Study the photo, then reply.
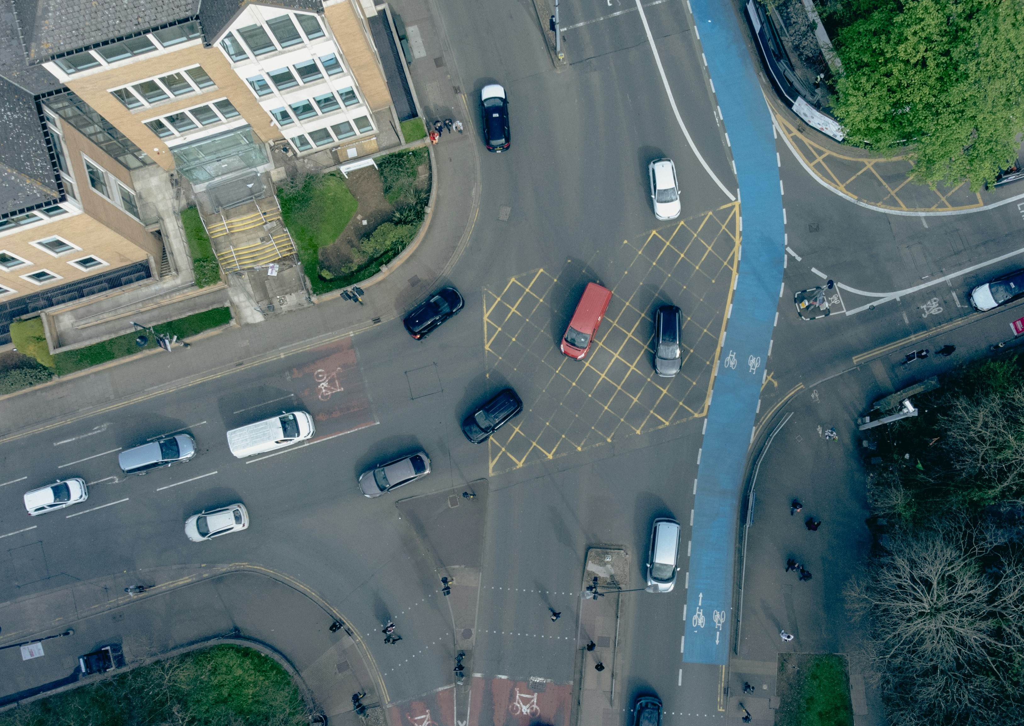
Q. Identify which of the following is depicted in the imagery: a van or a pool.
van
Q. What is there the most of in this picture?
paved ground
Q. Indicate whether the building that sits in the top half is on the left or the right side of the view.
left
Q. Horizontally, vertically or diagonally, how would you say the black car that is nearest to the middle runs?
diagonally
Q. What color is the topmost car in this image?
black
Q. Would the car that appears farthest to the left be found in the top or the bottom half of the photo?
bottom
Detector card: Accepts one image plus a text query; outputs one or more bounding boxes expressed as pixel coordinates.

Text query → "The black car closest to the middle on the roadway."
[461,386,523,444]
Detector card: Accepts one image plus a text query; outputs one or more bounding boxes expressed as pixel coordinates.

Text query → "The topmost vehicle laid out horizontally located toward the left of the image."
[225,412,313,460]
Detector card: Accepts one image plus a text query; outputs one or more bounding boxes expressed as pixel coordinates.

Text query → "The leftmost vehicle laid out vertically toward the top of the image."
[479,86,512,152]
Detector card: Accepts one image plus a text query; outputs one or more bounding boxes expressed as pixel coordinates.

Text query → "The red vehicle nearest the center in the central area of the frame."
[561,281,614,362]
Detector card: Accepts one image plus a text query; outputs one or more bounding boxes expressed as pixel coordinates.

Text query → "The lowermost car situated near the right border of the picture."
[967,266,1024,314]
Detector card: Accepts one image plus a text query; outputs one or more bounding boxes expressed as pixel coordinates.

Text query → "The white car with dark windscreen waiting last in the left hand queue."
[22,480,90,517]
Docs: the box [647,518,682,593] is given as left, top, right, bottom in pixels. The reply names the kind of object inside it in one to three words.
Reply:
car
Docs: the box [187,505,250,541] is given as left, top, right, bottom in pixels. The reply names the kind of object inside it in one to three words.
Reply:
car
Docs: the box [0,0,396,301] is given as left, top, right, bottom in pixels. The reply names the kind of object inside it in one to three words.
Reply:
building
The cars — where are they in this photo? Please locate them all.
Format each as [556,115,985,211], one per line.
[647,518,682,593]
[479,86,512,152]
[967,266,1024,314]
[406,286,465,338]
[632,691,663,726]
[361,453,433,499]
[648,157,683,223]
[22,480,90,517]
[461,386,523,444]
[652,306,686,377]
[187,505,250,541]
